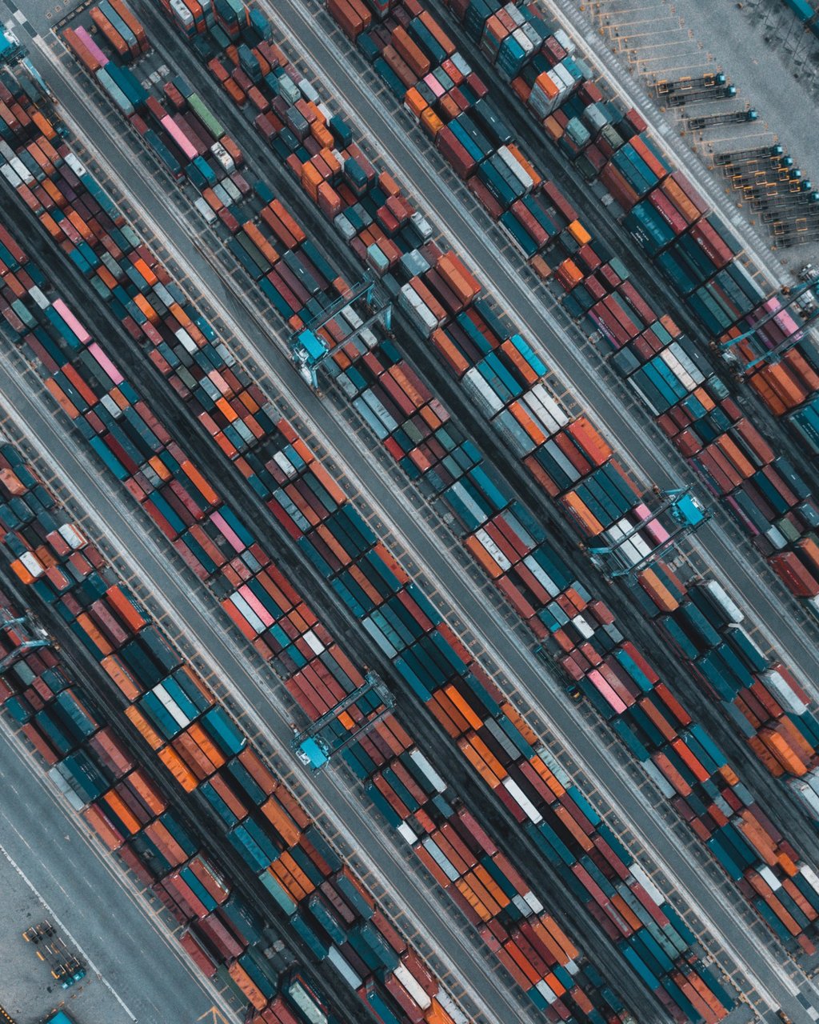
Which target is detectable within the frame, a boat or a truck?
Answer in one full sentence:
This aerial view contains a truck.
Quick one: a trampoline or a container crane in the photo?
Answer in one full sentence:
It is a container crane that can be seen here.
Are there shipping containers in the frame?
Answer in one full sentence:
Yes, this view includes a shipping container.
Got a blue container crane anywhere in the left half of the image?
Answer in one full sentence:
Yes, a blue container crane appears in the left half of the image.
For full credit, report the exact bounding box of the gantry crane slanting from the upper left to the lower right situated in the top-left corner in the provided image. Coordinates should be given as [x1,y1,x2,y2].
[0,18,61,105]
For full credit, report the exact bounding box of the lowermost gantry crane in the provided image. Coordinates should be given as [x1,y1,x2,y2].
[278,661,400,789]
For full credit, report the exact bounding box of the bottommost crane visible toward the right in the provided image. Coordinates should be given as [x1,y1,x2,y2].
[576,482,716,591]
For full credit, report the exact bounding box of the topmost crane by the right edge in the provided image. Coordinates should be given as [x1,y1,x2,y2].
[704,271,819,384]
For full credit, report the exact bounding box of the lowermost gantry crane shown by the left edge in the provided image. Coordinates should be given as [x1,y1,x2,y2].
[0,603,63,660]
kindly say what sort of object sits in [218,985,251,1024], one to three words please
shipping container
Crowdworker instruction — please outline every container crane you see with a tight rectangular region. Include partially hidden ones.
[277,279,397,397]
[0,603,63,660]
[576,482,716,591]
[278,661,400,789]
[704,271,819,384]
[0,18,61,105]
